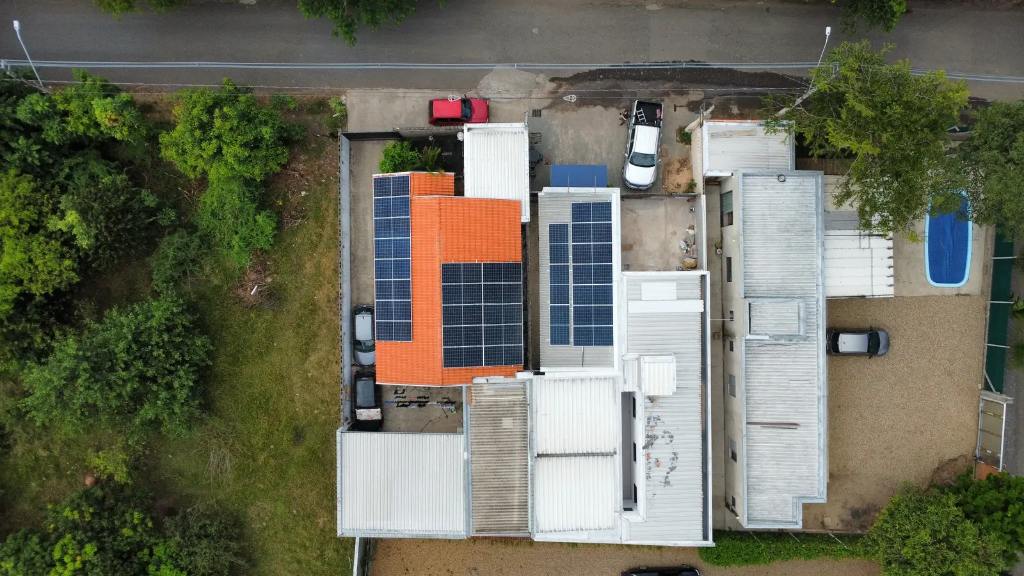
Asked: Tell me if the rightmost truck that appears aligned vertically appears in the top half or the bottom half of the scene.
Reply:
top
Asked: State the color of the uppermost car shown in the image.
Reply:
red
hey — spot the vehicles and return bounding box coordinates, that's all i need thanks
[351,304,376,367]
[625,100,664,188]
[352,370,384,428]
[428,92,489,124]
[622,562,699,576]
[825,326,890,361]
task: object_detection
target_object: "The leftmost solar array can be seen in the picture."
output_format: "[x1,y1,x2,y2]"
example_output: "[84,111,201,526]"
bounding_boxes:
[374,173,412,343]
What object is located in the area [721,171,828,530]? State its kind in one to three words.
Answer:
house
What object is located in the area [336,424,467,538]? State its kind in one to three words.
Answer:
building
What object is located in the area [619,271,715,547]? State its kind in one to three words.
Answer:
house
